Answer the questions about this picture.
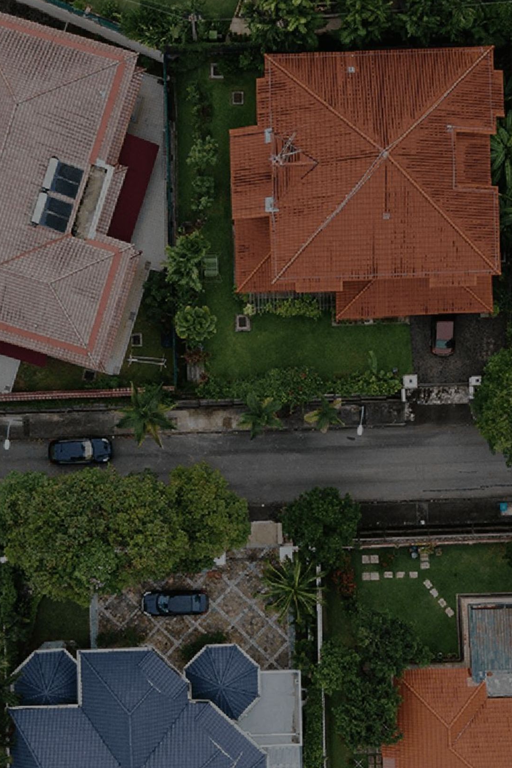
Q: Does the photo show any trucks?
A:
No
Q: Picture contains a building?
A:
Yes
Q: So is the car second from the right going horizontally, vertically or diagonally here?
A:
horizontally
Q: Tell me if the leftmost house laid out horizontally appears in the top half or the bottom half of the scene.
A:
bottom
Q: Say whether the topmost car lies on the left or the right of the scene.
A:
right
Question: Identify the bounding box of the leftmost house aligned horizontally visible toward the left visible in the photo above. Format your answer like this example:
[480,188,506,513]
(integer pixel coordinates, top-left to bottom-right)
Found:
[5,634,308,768]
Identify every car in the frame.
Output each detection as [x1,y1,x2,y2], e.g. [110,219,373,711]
[428,315,458,358]
[141,587,211,621]
[45,435,115,468]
